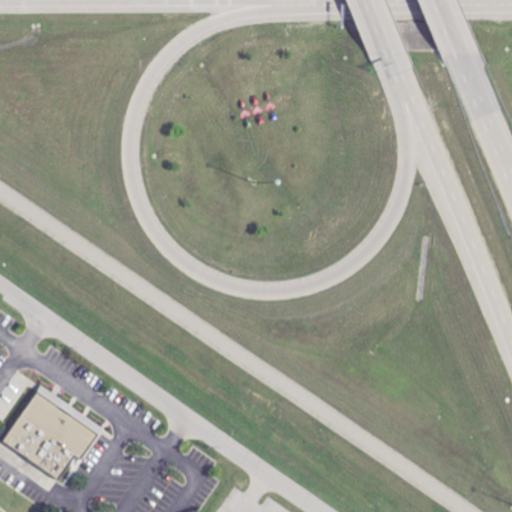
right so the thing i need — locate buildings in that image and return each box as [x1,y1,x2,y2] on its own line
[0,393,98,480]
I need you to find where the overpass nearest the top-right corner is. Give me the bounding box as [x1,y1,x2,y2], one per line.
[418,0,486,66]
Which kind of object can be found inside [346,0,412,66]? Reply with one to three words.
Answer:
overpass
